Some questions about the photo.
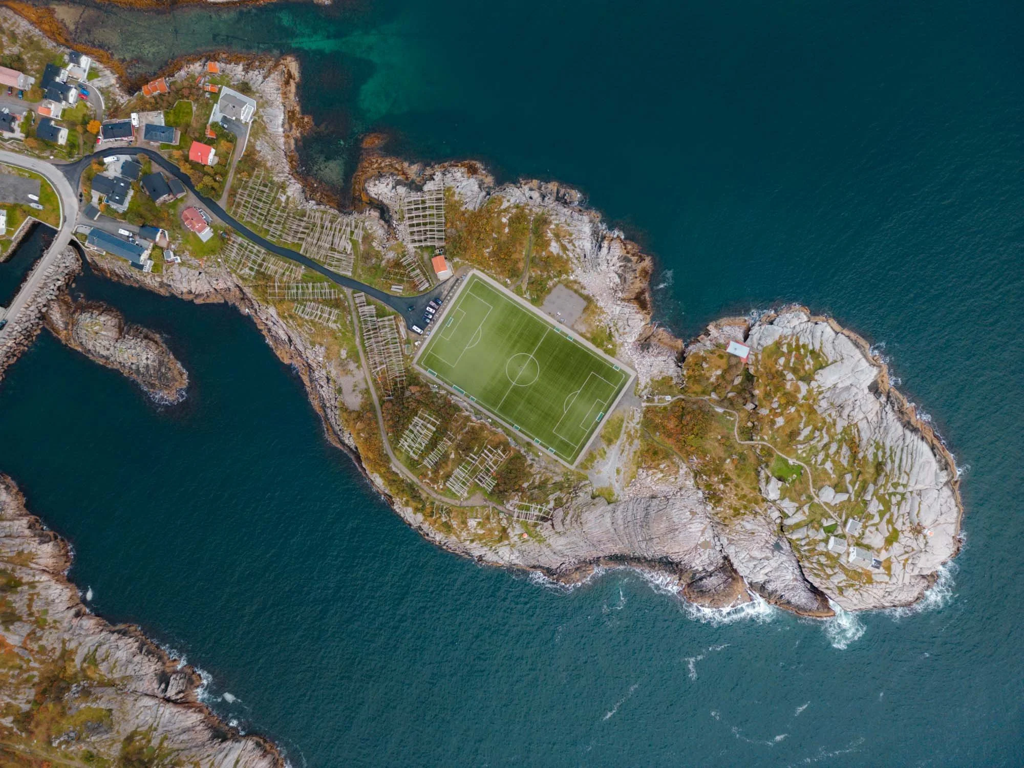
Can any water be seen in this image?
Yes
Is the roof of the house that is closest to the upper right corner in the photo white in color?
Yes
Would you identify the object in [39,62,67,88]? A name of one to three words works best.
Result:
house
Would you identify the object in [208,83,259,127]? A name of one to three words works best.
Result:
house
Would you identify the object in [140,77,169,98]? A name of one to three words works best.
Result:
building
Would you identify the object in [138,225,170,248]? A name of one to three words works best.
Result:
building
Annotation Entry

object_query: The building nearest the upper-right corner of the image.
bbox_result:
[725,338,750,363]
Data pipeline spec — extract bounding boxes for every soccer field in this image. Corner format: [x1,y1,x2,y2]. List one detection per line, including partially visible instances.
[410,267,638,472]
